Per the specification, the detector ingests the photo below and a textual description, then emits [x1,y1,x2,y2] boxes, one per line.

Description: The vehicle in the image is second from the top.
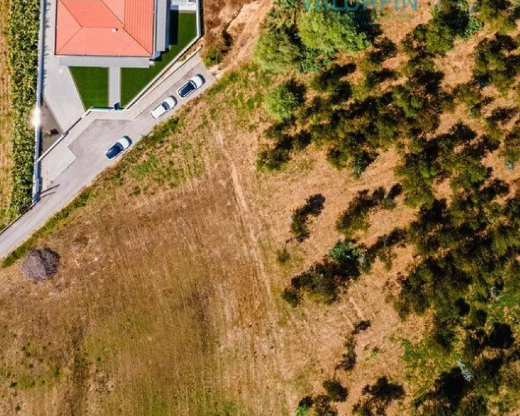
[149,95,176,119]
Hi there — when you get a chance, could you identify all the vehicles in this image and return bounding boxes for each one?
[149,95,176,119]
[104,136,133,159]
[177,74,204,98]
